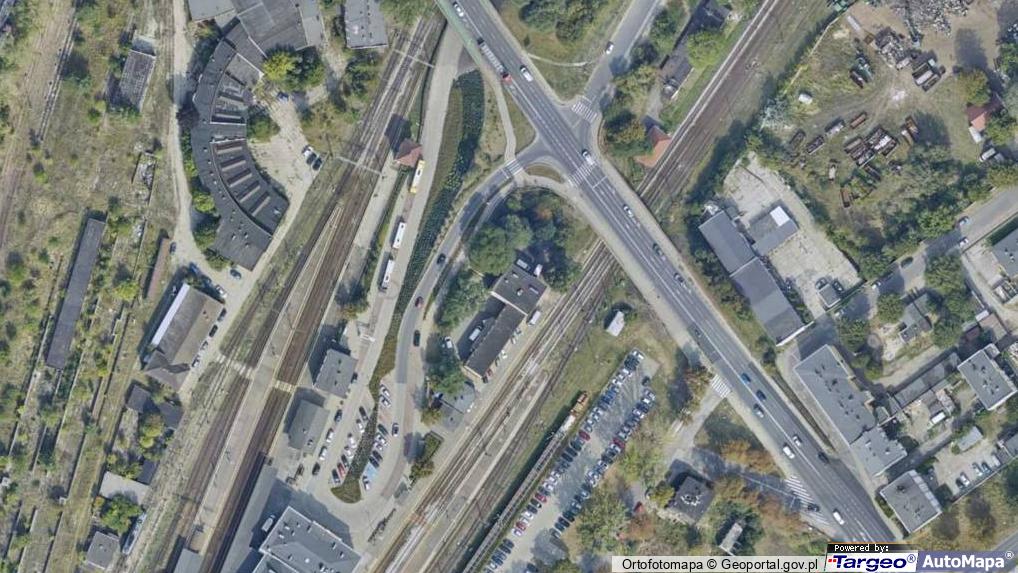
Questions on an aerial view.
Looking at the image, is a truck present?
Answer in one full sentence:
Yes, looking at the shot, I can spot a truck.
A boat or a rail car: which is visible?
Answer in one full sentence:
The image shows a rail car.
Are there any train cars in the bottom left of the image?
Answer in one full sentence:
Yes, you'll find a train car in the bottom left of the image.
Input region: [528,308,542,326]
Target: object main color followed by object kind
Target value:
white vehicle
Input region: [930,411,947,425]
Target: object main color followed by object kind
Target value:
white vehicle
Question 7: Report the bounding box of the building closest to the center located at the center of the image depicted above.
[492,264,547,315]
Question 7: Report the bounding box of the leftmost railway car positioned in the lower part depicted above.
[122,512,149,555]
